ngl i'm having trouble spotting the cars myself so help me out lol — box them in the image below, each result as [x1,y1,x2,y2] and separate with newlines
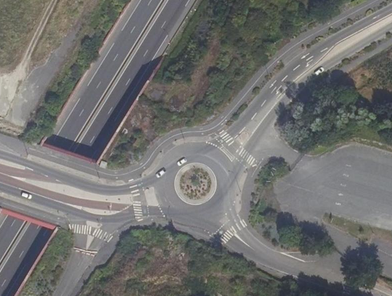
[156,168,166,177]
[176,156,188,166]
[314,66,324,74]
[21,192,32,199]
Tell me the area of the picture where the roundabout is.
center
